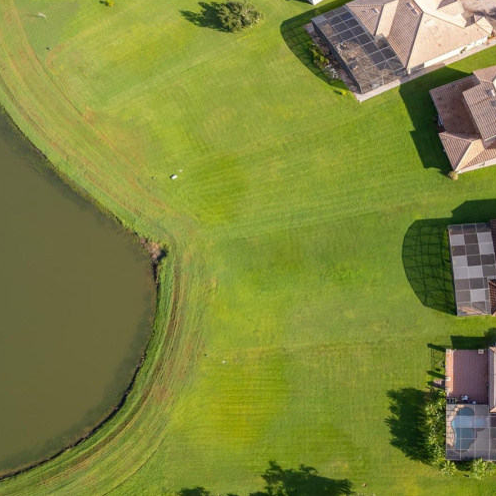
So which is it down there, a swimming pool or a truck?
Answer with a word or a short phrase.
swimming pool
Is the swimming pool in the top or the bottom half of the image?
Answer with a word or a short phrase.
bottom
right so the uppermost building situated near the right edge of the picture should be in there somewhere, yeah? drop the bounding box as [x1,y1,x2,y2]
[346,0,493,76]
